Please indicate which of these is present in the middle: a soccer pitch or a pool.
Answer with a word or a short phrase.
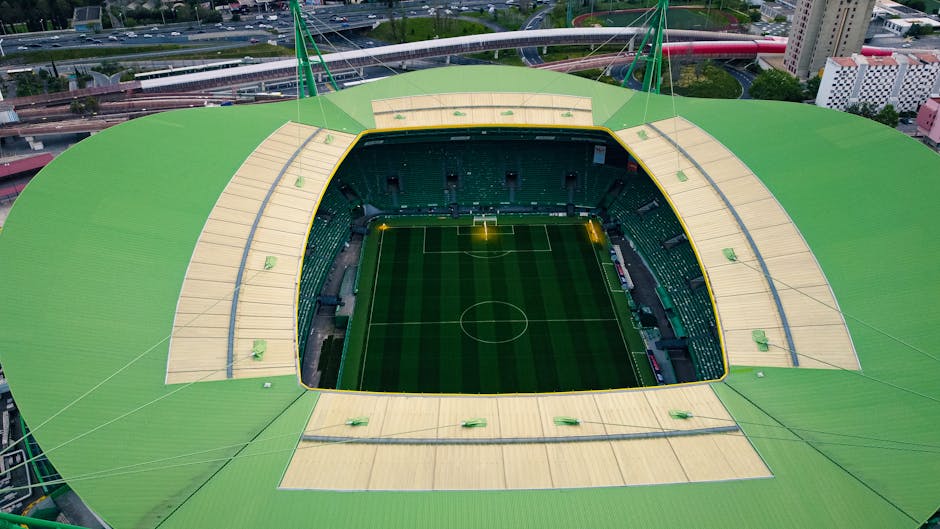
soccer pitch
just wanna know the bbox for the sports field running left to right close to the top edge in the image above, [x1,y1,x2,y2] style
[573,6,751,50]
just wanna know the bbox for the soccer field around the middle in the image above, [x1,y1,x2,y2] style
[357,222,644,397]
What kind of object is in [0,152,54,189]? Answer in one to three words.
shed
